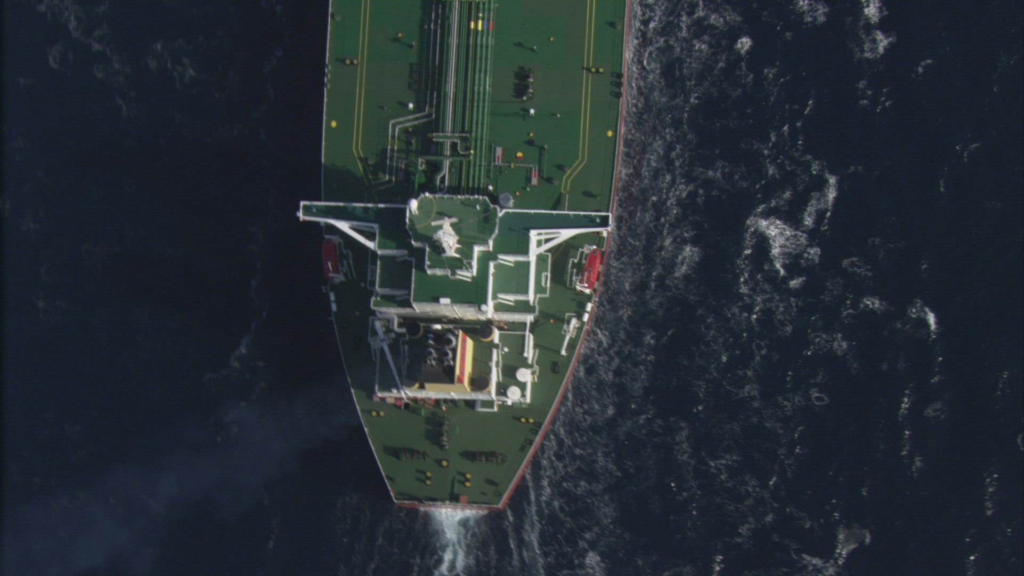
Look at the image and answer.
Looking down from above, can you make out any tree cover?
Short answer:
No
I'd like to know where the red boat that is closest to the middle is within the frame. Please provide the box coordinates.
[582,248,602,293]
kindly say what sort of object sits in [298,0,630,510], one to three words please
ship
